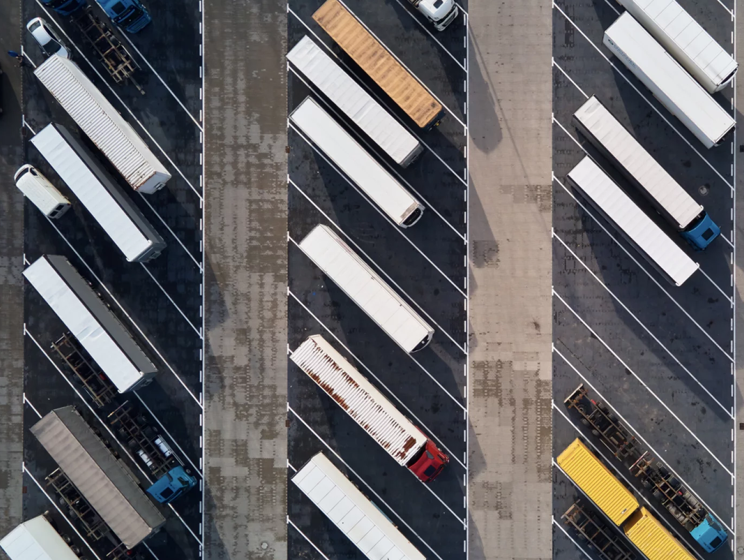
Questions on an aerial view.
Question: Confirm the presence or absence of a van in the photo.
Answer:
Yes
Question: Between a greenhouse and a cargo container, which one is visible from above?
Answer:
cargo container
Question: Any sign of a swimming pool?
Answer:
No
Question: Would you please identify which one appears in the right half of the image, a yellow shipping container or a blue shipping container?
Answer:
yellow shipping container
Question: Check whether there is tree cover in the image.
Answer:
No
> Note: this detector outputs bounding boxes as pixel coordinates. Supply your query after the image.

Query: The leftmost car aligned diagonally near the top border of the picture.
[27,17,72,61]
